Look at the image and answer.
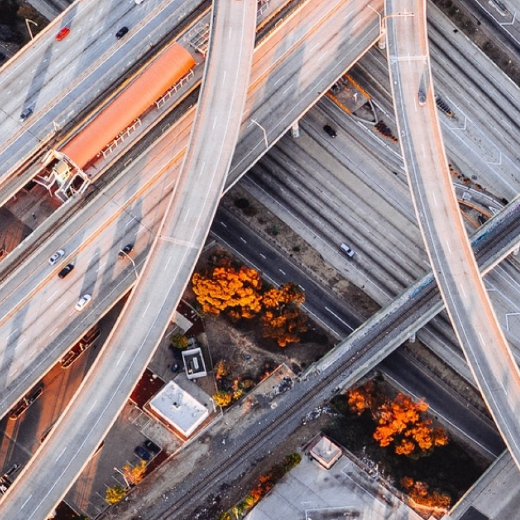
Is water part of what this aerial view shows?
No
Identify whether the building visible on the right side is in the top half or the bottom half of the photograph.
bottom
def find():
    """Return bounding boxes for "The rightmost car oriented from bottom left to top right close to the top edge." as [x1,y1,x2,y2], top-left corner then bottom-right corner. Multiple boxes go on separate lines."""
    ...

[114,25,128,39]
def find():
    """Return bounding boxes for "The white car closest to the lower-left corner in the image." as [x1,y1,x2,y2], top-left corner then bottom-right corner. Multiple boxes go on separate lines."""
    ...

[74,295,91,311]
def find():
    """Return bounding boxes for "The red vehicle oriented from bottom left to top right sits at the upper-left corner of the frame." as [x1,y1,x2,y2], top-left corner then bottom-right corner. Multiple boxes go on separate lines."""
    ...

[55,27,70,41]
